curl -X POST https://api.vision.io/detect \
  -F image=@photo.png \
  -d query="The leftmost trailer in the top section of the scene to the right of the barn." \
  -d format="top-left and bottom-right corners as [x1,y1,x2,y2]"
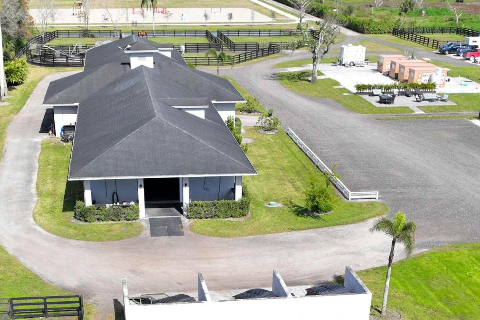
[332,36,375,65]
